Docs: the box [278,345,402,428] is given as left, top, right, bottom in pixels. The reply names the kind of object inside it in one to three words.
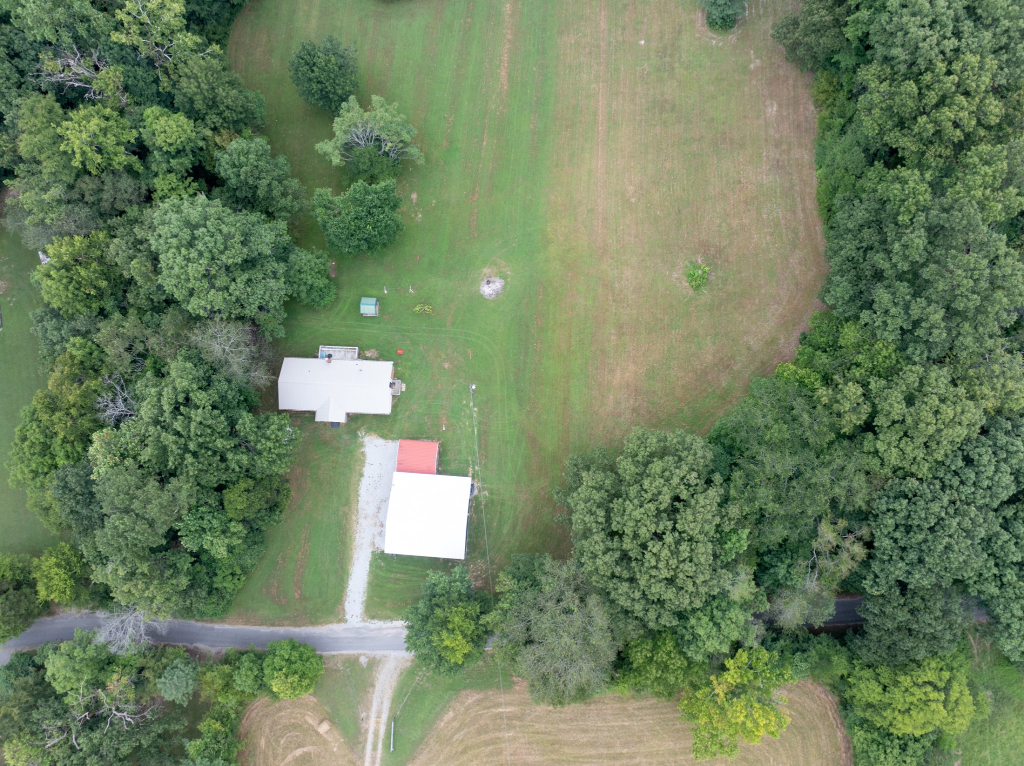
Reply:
house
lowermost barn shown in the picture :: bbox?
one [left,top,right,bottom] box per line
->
[386,472,472,559]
